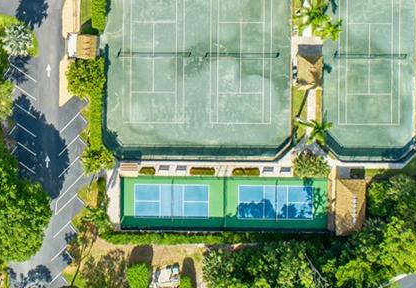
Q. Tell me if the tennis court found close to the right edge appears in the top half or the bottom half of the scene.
top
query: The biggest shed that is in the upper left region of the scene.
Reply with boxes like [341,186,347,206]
[68,33,98,60]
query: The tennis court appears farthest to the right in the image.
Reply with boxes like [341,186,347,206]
[323,0,416,160]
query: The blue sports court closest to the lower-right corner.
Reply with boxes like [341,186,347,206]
[225,177,328,229]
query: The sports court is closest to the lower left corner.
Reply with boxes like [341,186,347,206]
[121,177,225,229]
